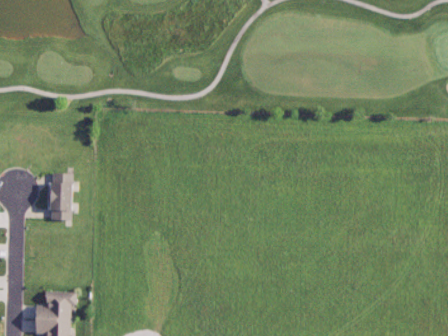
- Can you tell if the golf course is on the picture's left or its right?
right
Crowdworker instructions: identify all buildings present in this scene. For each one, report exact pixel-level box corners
[36,292,75,336]
[50,168,74,226]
